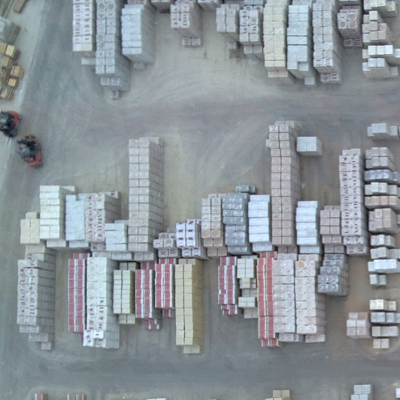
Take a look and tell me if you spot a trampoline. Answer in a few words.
No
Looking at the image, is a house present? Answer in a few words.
No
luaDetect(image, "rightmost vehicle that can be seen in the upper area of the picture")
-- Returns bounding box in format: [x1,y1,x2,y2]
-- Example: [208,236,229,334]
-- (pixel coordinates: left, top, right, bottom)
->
[15,131,43,163]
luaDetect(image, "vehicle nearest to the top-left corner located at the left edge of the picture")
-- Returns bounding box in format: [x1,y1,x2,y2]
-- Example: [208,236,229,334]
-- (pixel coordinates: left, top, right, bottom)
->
[0,111,21,147]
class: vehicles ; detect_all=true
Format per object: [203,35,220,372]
[15,131,43,163]
[0,111,21,147]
